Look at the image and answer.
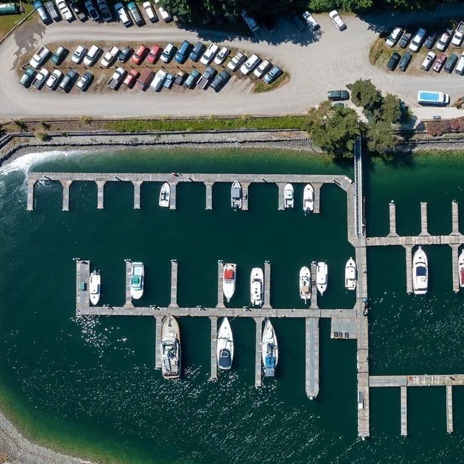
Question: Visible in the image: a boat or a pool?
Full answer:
There is a boat in the scene.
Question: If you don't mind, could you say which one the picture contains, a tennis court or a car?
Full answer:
The one in the frame is a car.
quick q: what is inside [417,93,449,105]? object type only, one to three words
vehicle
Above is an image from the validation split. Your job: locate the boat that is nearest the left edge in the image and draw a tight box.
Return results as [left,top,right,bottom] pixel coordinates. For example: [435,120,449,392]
[89,272,102,305]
